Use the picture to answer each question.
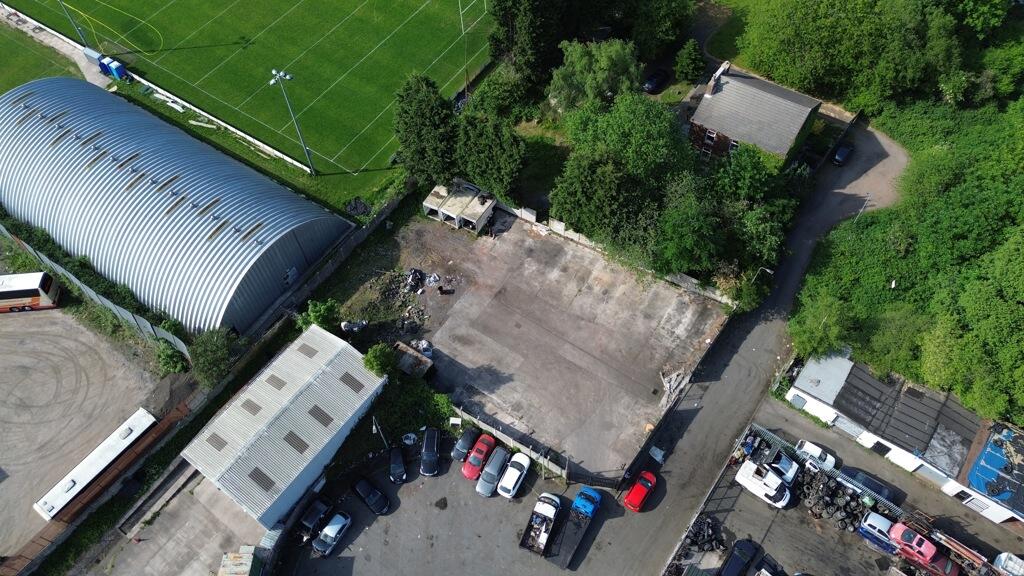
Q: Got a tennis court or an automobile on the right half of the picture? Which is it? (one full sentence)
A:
Looking on the right half of the picture, you will find an automobile.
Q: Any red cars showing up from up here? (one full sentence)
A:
Yes, the frame does contain a red car.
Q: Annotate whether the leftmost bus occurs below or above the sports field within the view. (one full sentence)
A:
The leftmost bus is below the sports field.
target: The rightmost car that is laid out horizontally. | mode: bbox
[914,556,963,576]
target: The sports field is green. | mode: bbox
[0,0,534,214]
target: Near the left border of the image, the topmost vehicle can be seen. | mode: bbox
[0,272,56,307]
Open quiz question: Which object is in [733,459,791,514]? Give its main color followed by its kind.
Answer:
white van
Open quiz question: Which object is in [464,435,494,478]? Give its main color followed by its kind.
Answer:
red car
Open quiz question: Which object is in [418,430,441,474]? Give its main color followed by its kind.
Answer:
black car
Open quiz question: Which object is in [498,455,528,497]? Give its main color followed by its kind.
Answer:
white car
